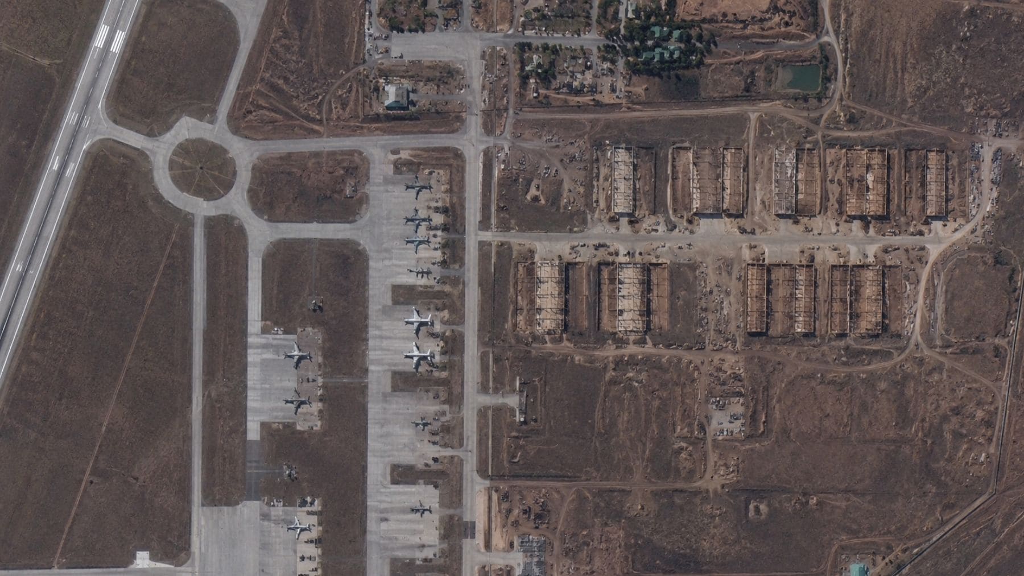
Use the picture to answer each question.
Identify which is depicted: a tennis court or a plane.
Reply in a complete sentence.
The one in the frame is a plane.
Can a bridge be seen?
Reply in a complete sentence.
No, the picture doesn't show any bridge.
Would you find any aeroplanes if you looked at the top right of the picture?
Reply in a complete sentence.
No, I can find no aeroplane at the top right of the picture.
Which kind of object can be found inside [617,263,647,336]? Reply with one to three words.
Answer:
hangar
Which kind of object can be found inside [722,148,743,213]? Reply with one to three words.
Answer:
hangar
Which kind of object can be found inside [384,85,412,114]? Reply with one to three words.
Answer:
building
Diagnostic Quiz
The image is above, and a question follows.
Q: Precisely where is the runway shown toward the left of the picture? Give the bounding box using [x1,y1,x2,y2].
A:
[0,0,141,386]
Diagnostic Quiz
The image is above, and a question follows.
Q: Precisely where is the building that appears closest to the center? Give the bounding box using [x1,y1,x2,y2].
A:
[536,262,565,335]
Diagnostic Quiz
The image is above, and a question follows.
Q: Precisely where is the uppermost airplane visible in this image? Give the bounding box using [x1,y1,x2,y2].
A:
[405,174,433,199]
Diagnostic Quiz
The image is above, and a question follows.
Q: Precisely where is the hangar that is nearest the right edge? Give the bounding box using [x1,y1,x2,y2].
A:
[925,149,946,216]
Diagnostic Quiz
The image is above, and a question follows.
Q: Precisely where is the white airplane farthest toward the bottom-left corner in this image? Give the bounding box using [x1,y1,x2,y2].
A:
[287,516,312,539]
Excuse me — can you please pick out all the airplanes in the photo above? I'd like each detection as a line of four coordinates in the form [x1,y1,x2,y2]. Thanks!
[404,207,432,230]
[404,229,431,253]
[404,342,430,369]
[404,307,430,334]
[287,516,312,539]
[283,387,312,414]
[410,501,432,518]
[412,416,430,431]
[284,341,310,368]
[405,174,433,199]
[408,266,432,278]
